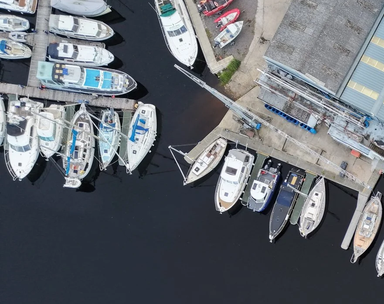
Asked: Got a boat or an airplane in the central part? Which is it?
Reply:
boat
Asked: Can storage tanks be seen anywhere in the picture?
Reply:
No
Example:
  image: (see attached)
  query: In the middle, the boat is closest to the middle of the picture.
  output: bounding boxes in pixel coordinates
[166,141,230,186]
